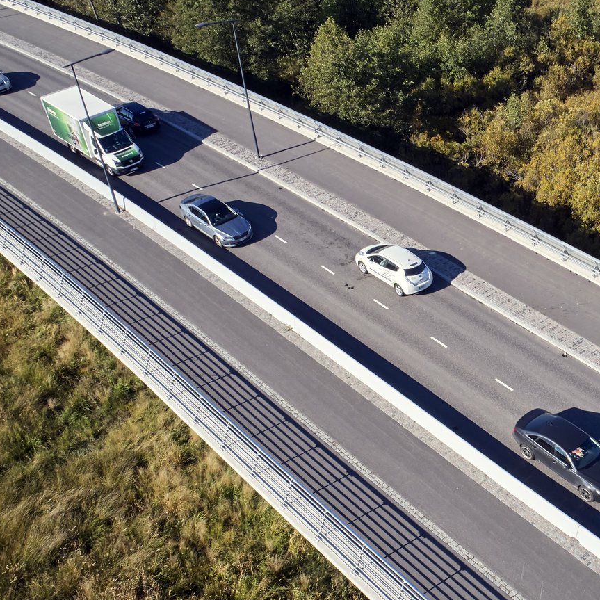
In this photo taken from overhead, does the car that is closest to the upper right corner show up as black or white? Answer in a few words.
white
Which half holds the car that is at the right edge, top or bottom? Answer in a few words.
bottom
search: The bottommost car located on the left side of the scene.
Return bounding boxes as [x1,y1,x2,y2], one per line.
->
[179,193,253,247]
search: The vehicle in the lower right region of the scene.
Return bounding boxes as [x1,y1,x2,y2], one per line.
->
[514,408,600,501]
